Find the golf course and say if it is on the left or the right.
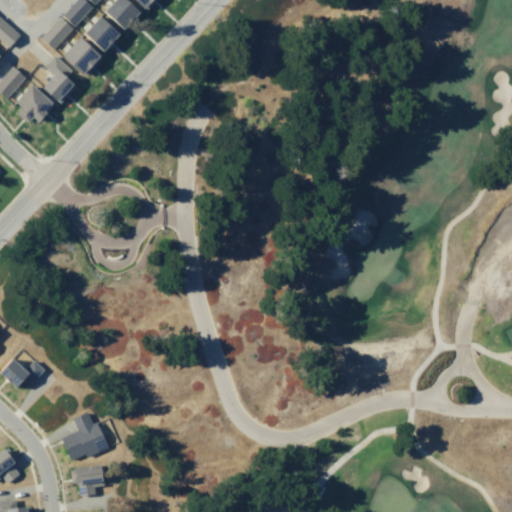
right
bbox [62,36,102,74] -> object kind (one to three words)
house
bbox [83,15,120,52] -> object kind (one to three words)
house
